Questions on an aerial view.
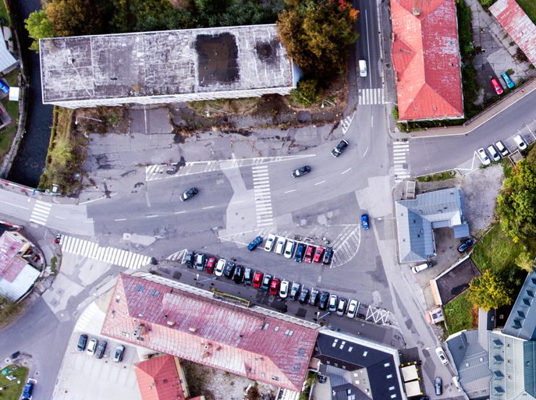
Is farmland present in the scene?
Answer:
No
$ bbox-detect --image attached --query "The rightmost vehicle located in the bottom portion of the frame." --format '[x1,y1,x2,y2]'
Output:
[457,237,474,253]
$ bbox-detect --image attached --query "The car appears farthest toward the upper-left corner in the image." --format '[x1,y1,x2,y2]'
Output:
[179,186,199,200]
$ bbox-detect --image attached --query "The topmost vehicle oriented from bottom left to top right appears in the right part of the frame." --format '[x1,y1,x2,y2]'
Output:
[333,139,349,158]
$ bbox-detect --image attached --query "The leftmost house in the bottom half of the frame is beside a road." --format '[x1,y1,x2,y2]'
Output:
[0,230,53,296]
